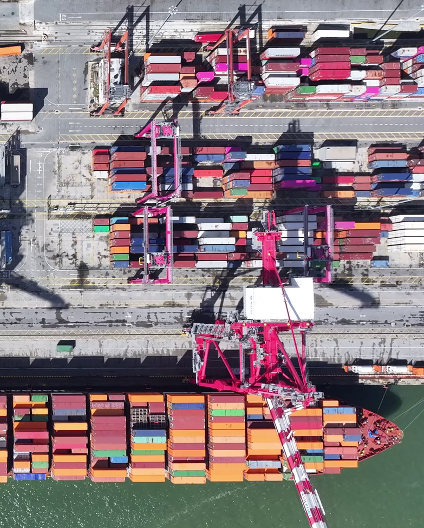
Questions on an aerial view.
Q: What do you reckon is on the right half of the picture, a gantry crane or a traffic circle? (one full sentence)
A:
You can see a gantry crane on the right half of the picture.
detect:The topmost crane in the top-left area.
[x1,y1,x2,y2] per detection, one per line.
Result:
[91,30,134,116]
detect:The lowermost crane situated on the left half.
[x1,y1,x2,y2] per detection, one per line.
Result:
[128,210,171,284]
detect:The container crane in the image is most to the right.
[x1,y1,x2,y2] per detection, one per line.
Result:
[277,210,332,284]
